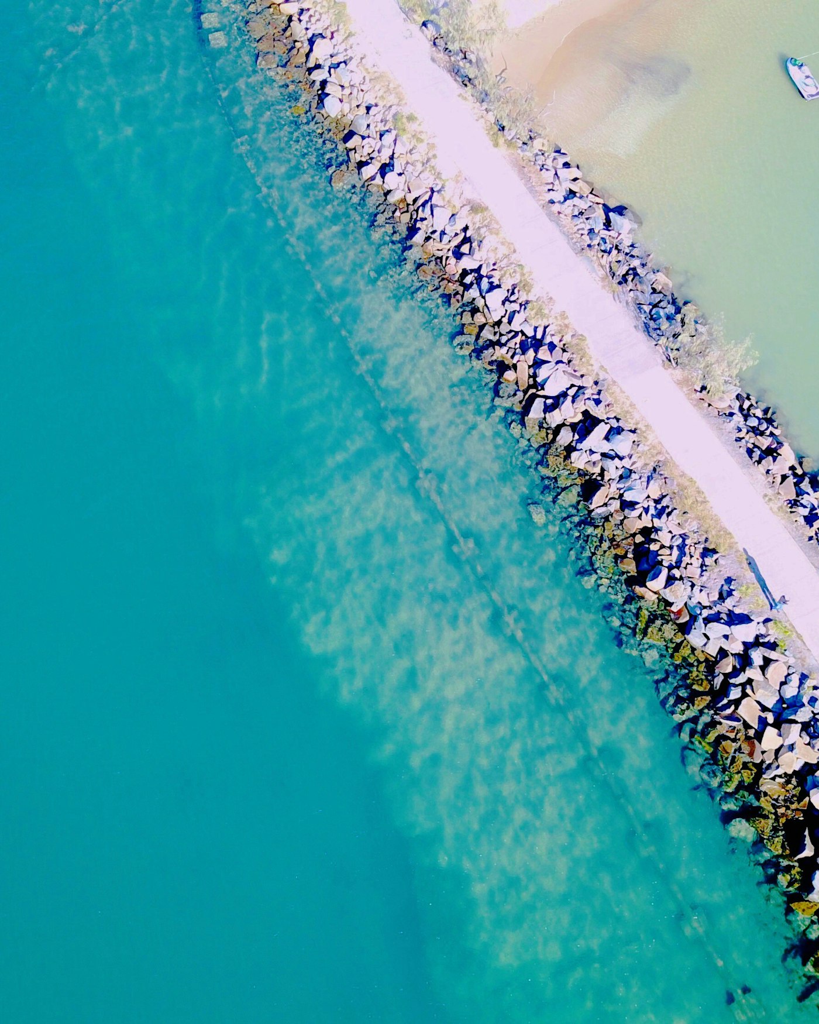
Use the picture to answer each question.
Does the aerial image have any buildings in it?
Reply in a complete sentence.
No, the scene contains no building.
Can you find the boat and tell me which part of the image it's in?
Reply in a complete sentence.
You can find the boat in the top right area of the picture.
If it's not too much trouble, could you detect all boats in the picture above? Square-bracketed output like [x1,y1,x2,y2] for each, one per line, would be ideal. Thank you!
[788,56,819,109]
